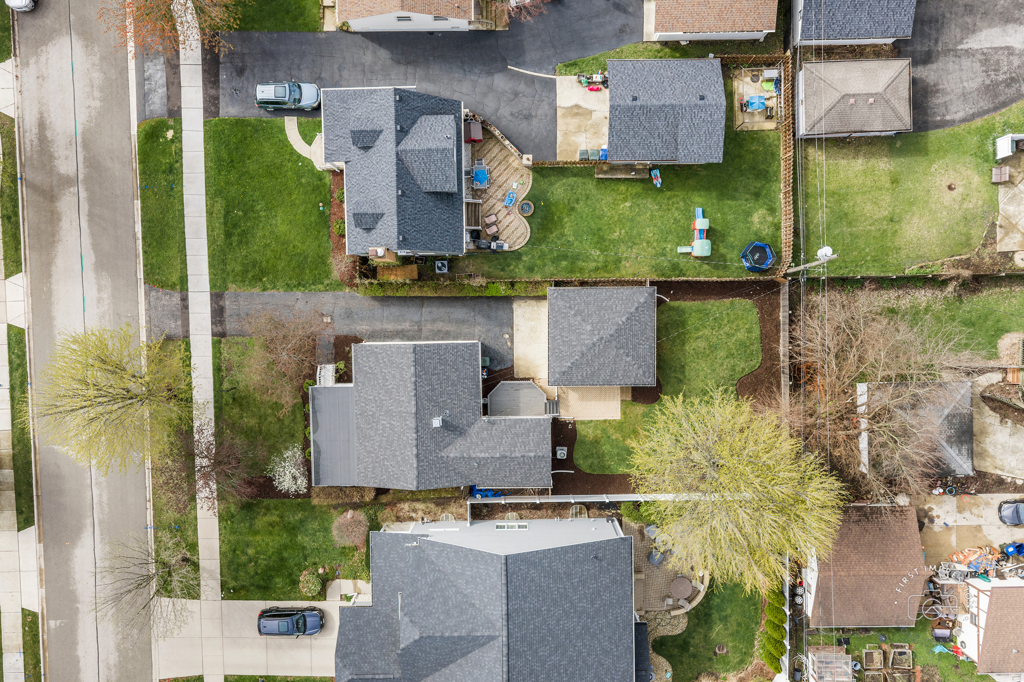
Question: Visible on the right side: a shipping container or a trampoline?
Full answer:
What appears on the right side is a trampoline.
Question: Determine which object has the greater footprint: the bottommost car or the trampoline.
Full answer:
Of the two, the car is bigger, while the trampoline is smaller.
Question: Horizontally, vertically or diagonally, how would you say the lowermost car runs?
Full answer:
In this picture, the lowermost car is oriented horizontally.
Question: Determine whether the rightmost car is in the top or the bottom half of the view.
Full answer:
The rightmost car is in the bottom half of the image.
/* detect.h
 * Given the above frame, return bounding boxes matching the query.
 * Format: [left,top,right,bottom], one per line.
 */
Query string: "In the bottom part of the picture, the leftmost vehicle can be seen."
[256,605,325,640]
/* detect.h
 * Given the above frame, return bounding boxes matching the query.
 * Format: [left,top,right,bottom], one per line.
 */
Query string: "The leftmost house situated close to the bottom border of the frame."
[336,518,649,682]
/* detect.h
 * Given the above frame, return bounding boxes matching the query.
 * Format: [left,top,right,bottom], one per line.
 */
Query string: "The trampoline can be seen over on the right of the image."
[742,240,782,273]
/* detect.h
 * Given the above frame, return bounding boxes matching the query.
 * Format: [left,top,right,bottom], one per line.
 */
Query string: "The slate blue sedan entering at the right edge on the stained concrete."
[995,498,1024,530]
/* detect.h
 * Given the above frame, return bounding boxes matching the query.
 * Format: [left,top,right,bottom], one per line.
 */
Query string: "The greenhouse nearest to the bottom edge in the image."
[805,642,852,682]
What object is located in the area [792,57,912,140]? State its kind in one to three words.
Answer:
building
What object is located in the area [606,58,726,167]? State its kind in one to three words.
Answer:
building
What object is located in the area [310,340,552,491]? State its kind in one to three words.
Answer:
house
